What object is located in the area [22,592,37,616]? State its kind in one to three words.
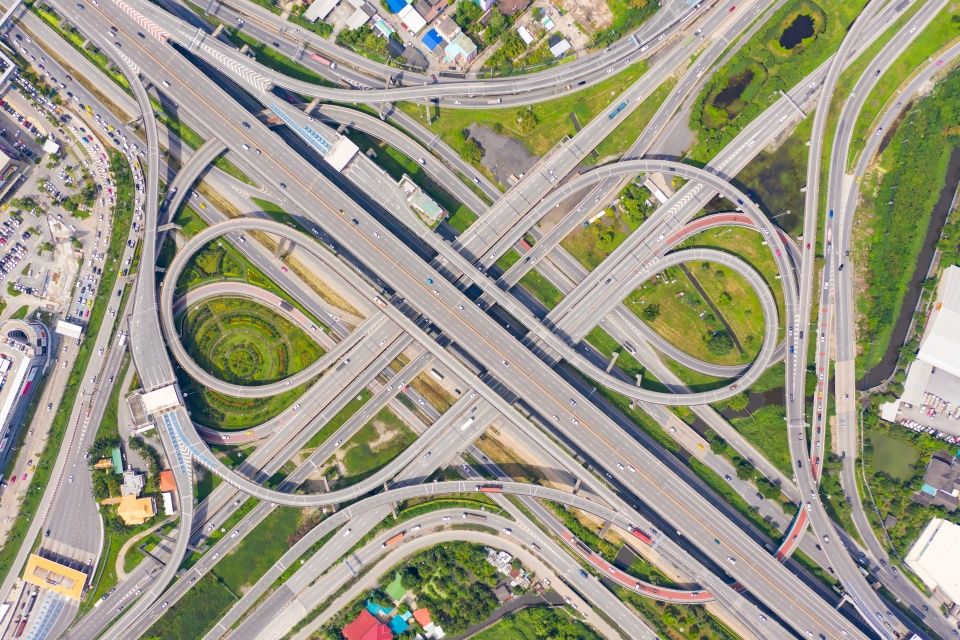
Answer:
vehicle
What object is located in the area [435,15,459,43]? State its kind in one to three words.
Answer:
house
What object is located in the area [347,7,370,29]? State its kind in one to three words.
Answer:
shed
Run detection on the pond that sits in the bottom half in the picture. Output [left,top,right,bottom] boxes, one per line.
[869,435,919,479]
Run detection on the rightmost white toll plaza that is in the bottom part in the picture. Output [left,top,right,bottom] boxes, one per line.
[141,379,184,418]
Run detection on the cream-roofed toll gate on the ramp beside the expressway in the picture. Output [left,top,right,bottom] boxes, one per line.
[323,132,366,176]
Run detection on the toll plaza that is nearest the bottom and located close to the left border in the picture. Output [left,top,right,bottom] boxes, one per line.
[23,544,95,603]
